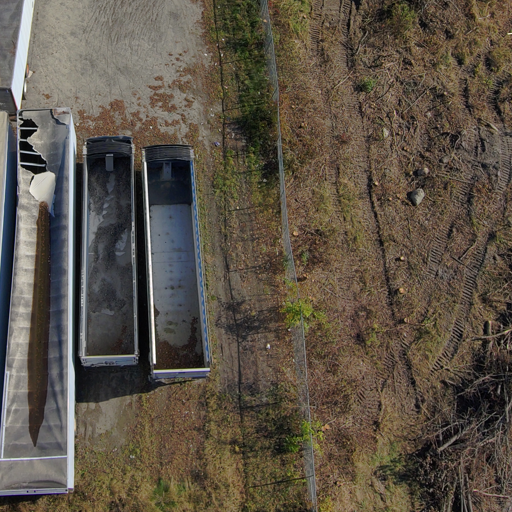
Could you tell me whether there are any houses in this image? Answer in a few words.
No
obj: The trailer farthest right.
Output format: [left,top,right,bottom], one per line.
[141,136,218,386]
